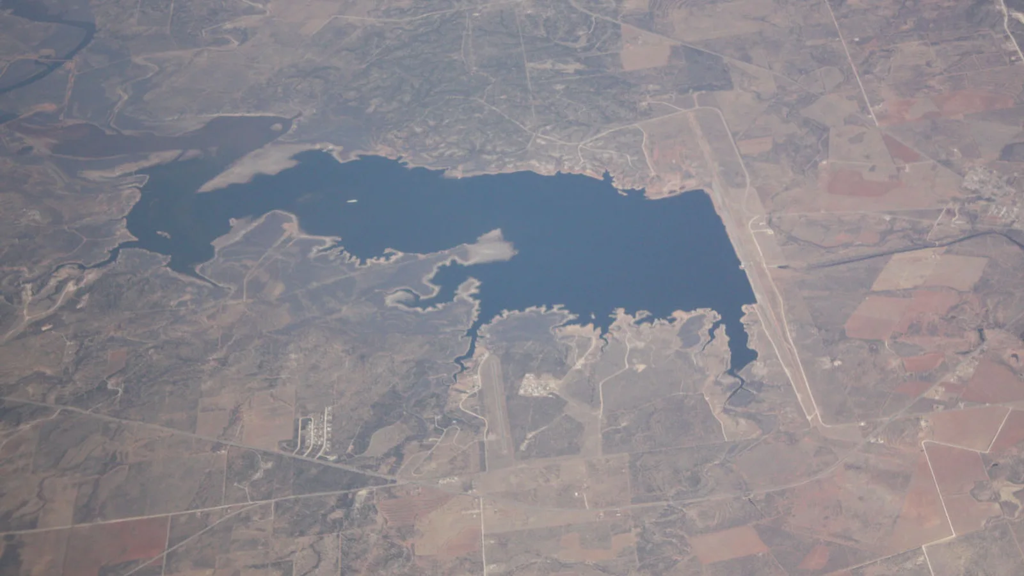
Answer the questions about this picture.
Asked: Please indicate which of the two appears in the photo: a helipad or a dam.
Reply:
dam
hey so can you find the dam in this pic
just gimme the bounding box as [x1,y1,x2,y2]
[696,118,814,415]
